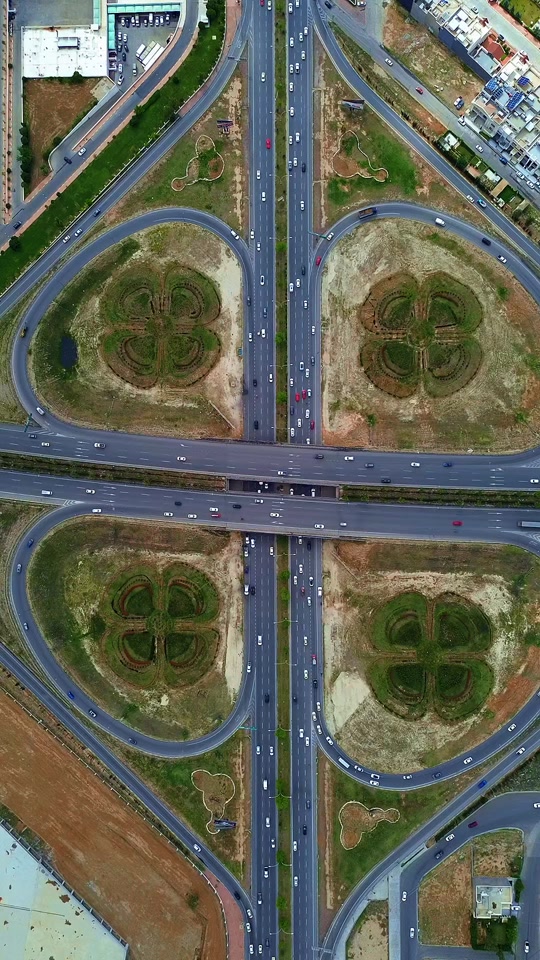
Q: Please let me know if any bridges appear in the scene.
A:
Yes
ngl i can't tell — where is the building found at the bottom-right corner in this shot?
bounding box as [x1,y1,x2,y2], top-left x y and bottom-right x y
[473,881,513,920]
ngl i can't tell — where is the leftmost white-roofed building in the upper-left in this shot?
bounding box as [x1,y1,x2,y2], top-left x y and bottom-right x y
[22,24,111,83]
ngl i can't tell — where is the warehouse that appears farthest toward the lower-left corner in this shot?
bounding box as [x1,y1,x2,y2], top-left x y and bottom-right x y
[0,818,128,960]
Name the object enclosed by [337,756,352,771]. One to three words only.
vehicle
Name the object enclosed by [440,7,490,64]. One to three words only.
house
